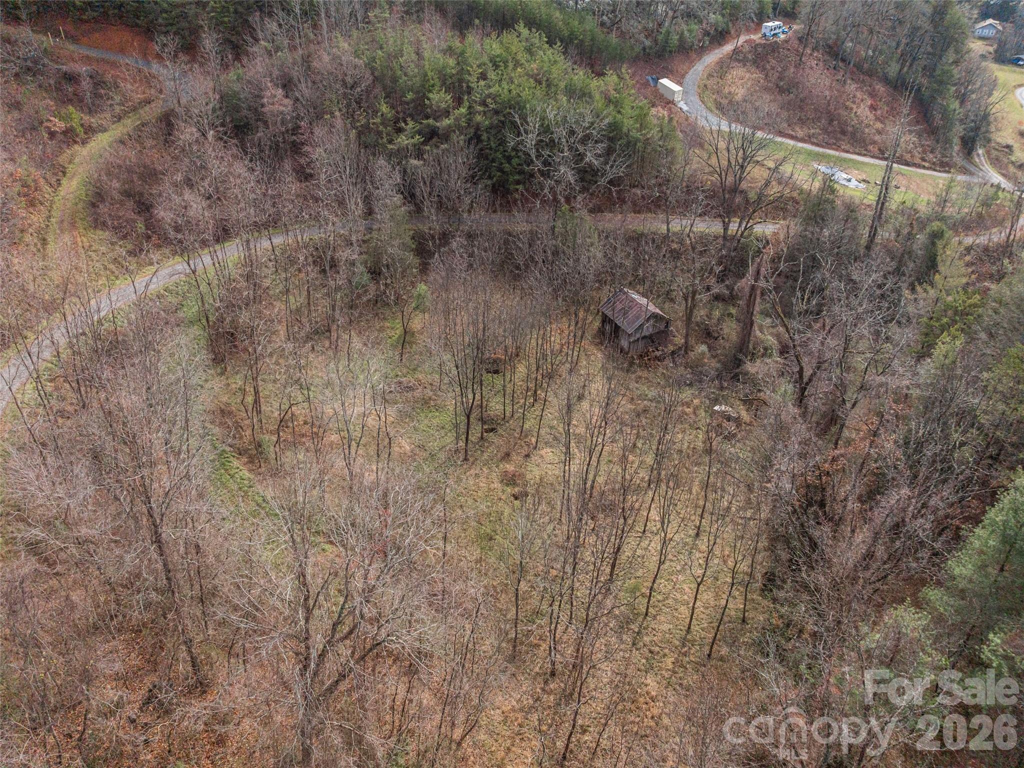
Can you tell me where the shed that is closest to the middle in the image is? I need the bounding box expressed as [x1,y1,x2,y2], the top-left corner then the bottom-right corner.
[596,289,672,359]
